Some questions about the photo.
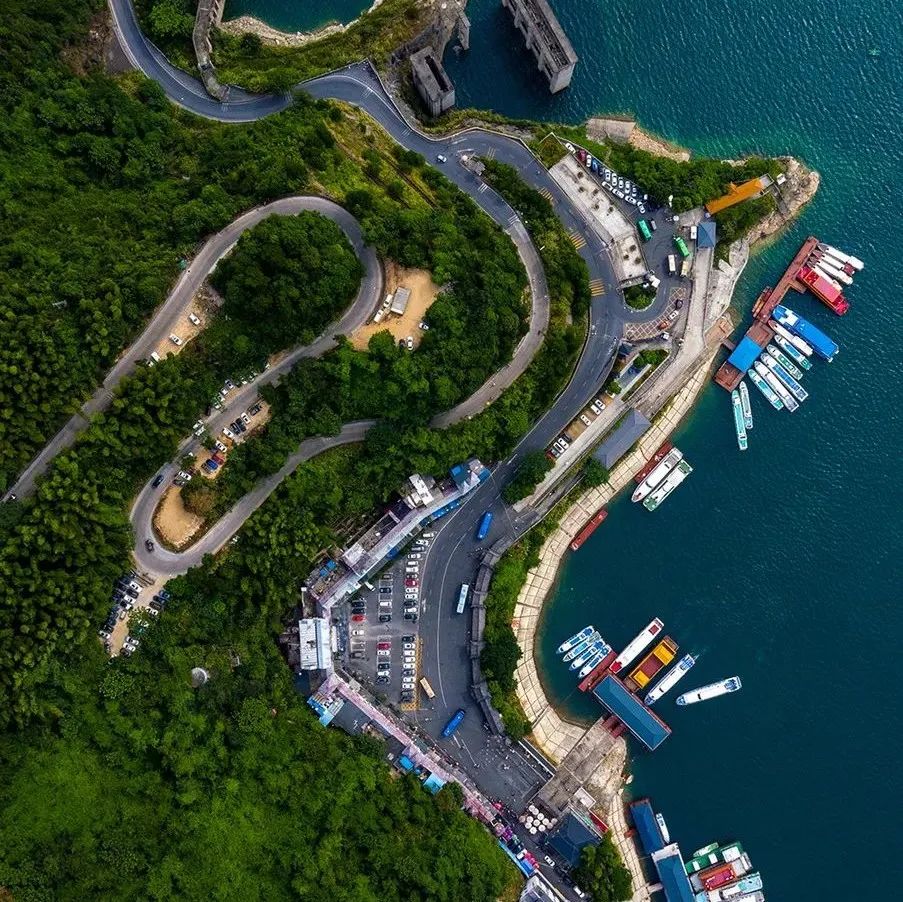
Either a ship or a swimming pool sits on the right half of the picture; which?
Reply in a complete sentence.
Visible on the right half of the picture is a ship.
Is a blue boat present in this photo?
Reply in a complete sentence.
Yes, the image includes a blue boat.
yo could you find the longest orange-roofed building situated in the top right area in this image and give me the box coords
[703,179,764,216]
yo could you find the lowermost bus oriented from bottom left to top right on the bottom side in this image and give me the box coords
[443,709,466,736]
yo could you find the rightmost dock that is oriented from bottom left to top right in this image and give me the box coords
[757,236,820,324]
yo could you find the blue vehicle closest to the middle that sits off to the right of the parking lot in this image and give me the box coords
[477,512,493,539]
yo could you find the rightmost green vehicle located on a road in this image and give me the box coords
[673,238,689,257]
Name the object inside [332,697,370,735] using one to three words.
house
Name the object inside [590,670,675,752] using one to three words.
pier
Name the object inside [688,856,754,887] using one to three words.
boat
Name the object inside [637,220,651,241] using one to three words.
vehicle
